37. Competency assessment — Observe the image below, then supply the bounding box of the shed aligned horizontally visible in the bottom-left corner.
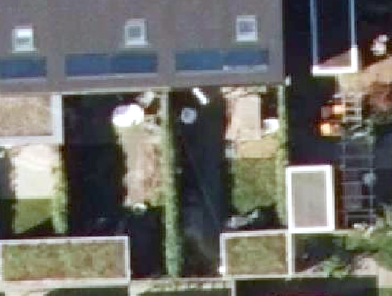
[0,235,129,288]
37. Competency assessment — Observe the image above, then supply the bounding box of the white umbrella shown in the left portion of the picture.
[113,100,143,130]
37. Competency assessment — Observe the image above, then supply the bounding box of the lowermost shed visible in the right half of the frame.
[217,232,290,276]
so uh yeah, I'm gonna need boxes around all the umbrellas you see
[266,119,278,132]
[113,100,143,130]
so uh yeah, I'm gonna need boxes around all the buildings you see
[217,232,290,276]
[311,0,358,73]
[0,0,289,145]
[0,235,129,288]
[286,164,335,232]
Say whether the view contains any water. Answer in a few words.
No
